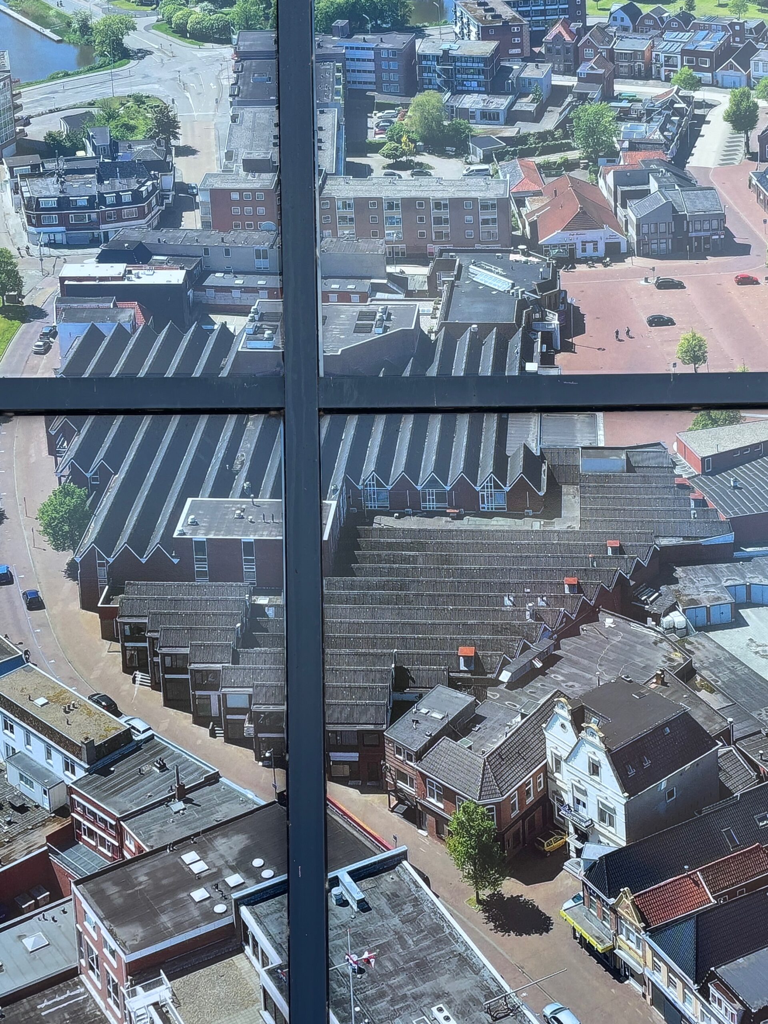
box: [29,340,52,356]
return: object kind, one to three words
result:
car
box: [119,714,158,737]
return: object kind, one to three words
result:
car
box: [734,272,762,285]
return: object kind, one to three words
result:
vehicle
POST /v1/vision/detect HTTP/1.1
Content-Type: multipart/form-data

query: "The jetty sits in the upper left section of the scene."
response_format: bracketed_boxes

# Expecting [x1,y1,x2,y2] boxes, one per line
[0,3,63,44]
